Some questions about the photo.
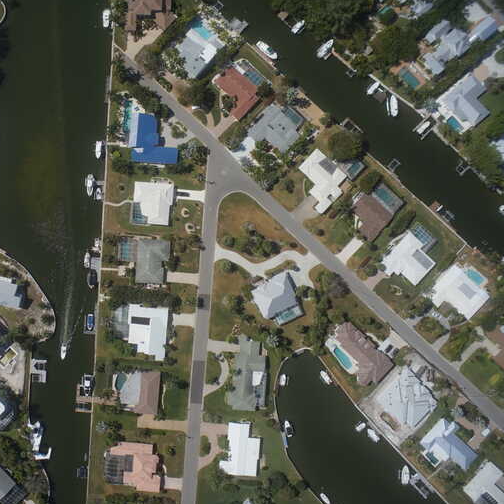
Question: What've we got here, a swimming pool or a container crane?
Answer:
swimming pool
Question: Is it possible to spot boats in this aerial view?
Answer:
Yes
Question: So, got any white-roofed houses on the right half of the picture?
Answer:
Yes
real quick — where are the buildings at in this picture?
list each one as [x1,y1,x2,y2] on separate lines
[105,442,159,492]
[353,184,404,241]
[0,277,24,308]
[419,418,477,470]
[113,304,167,360]
[334,319,397,390]
[121,371,160,415]
[0,467,26,504]
[0,398,15,426]
[226,335,266,411]
[216,58,270,120]
[381,223,435,286]
[176,29,215,79]
[395,0,433,16]
[252,271,304,326]
[128,110,177,163]
[247,105,305,152]
[462,461,504,504]
[125,0,176,32]
[219,422,262,476]
[118,239,170,284]
[431,263,489,319]
[444,74,491,128]
[298,148,364,214]
[422,16,472,76]
[131,181,174,226]
[486,325,504,369]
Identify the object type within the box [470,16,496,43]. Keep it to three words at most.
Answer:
house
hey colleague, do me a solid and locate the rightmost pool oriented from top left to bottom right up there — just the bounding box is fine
[462,264,487,289]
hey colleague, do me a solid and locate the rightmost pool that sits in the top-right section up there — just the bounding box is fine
[434,71,476,133]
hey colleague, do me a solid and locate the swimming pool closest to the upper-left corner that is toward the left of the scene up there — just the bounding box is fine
[119,95,144,144]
